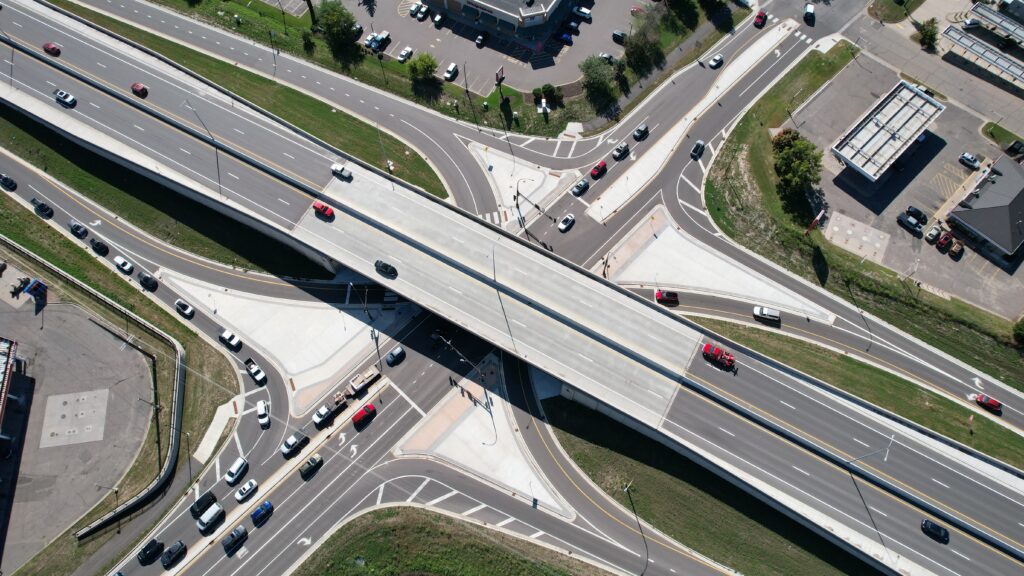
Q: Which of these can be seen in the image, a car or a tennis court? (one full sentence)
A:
There is a car in the scene.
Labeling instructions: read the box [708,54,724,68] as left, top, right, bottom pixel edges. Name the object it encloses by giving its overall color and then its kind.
white car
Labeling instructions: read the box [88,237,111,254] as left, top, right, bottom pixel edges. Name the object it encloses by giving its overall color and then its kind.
black vehicle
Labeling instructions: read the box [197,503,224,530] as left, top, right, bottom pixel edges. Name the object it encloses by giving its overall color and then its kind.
white vehicle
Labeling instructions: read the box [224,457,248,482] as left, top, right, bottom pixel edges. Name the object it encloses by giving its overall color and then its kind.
white car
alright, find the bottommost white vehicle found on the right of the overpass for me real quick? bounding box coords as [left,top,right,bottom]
[753,308,782,321]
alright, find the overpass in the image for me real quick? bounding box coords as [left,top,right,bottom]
[284,156,706,433]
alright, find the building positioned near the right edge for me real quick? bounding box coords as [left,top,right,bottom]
[945,155,1024,258]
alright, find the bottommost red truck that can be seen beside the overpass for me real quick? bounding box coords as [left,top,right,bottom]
[701,342,743,368]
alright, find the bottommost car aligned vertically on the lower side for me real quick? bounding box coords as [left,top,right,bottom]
[257,401,269,426]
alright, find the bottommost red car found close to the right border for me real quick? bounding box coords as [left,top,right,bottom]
[974,394,1002,412]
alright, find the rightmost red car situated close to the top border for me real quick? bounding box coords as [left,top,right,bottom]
[755,12,767,26]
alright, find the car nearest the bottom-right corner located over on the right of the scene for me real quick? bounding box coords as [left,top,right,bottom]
[919,518,950,543]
